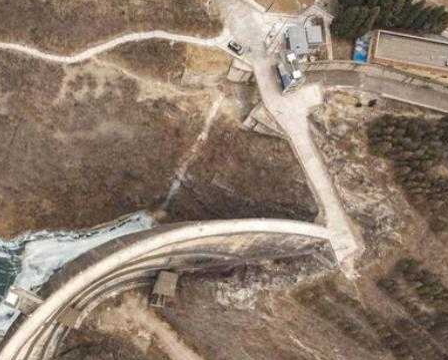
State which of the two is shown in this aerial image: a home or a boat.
home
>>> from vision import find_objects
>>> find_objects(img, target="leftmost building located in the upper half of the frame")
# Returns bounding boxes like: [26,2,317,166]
[224,57,252,85]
